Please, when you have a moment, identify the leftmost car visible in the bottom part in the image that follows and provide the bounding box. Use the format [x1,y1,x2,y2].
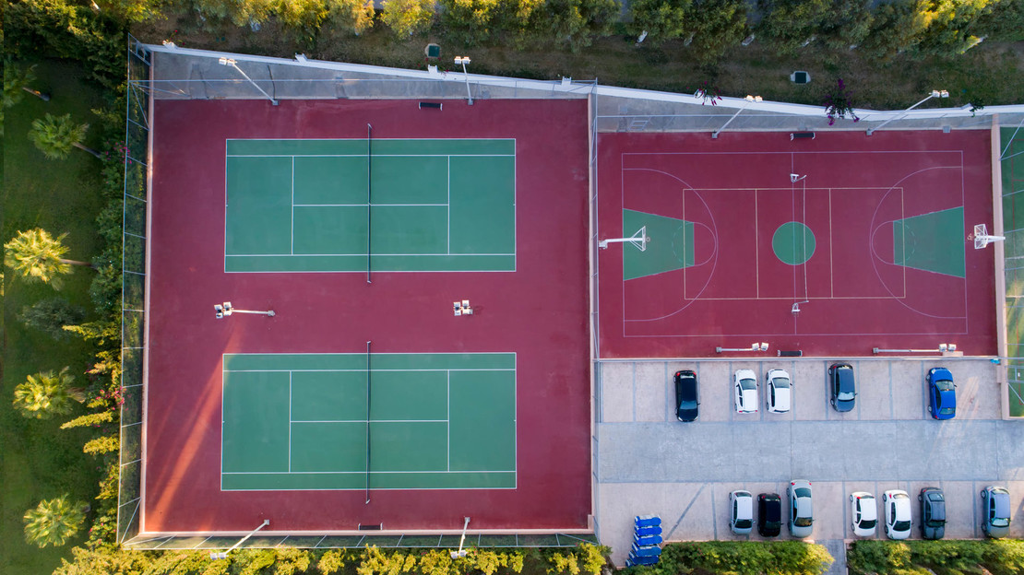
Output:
[674,371,701,422]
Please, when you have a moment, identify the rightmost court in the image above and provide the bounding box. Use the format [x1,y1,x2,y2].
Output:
[1002,127,1024,418]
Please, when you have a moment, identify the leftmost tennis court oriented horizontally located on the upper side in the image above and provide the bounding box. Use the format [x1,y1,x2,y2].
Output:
[225,139,516,272]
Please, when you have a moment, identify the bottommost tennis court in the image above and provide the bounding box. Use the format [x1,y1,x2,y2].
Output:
[221,352,517,491]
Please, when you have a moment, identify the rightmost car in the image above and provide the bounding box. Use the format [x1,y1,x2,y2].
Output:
[979,485,1013,539]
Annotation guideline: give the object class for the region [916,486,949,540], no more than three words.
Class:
car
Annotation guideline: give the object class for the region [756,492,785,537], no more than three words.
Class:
car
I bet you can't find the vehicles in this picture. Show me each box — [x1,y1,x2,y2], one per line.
[786,479,816,538]
[881,489,914,540]
[756,492,785,537]
[849,491,880,537]
[765,368,793,414]
[827,363,858,412]
[916,486,949,540]
[979,485,1013,539]
[733,369,761,414]
[925,367,957,421]
[728,489,756,537]
[674,371,701,422]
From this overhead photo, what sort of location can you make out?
sports ground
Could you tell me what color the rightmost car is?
blue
